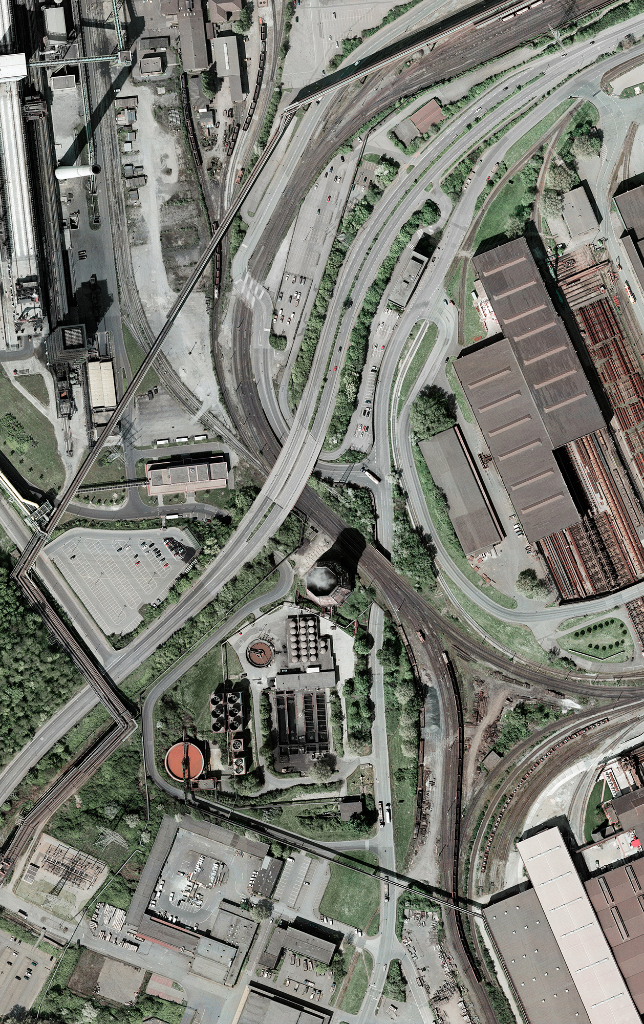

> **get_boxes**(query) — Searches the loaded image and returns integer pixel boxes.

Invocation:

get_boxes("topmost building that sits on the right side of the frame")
[409,99,447,135]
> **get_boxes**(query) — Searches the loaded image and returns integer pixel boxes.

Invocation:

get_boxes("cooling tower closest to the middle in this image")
[299,558,350,613]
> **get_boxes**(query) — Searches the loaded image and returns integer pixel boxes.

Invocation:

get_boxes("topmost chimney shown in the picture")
[52,159,86,179]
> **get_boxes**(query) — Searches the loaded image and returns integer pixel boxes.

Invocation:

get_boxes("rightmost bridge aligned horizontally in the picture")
[527,580,644,620]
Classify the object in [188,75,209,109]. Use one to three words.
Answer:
shed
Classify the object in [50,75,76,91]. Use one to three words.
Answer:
building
